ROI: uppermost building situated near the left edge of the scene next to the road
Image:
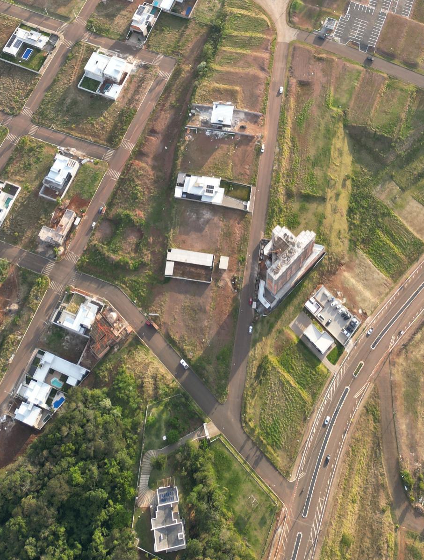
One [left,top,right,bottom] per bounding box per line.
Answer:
[2,28,50,61]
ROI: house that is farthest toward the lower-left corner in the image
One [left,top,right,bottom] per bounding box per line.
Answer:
[15,400,46,427]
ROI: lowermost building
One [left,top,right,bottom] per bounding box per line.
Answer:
[152,485,187,552]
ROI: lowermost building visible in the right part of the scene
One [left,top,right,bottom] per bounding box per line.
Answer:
[303,322,335,353]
